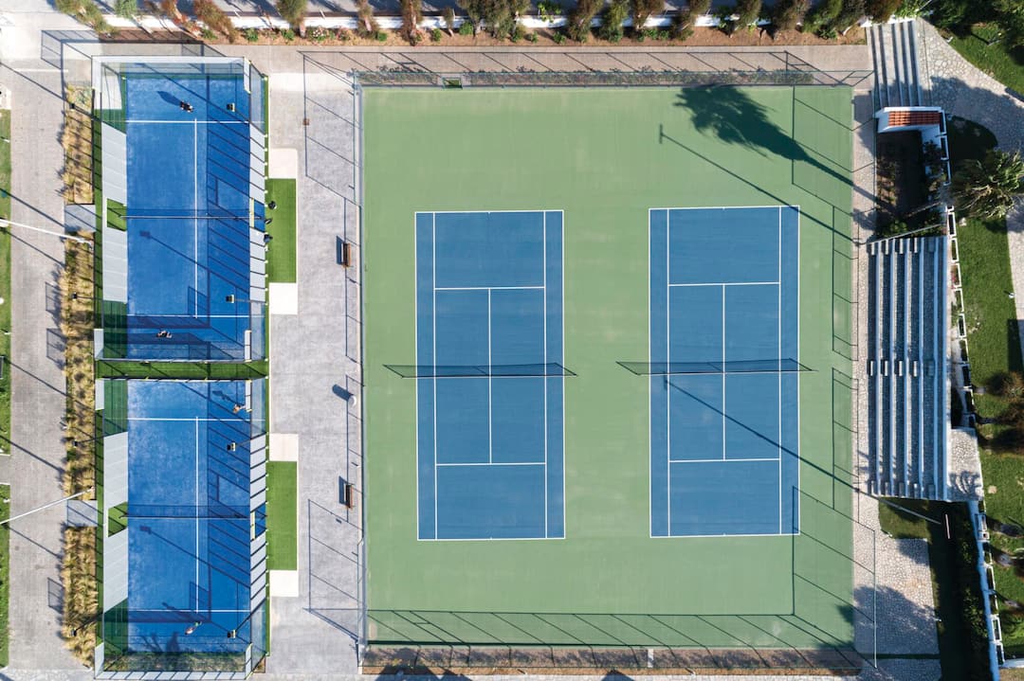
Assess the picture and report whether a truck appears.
No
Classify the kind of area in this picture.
sports ground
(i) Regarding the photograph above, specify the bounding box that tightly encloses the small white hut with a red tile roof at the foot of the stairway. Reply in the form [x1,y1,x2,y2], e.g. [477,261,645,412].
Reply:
[870,108,932,137]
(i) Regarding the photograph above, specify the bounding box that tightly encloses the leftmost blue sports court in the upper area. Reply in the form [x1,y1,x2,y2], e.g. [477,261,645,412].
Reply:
[93,56,269,361]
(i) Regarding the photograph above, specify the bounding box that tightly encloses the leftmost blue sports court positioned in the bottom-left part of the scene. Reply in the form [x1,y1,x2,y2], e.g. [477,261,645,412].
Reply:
[95,377,272,680]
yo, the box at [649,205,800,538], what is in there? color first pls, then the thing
blue tennis court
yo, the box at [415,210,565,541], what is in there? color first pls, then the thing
blue tennis court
